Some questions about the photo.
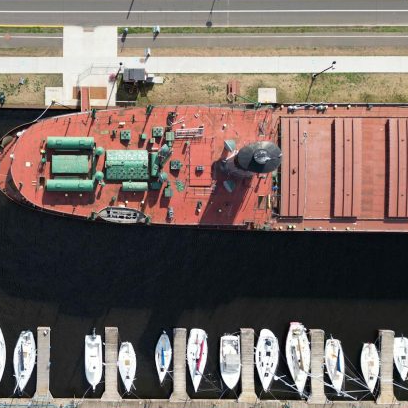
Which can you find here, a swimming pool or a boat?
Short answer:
boat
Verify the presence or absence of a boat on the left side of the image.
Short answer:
Yes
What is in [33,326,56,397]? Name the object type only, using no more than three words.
pier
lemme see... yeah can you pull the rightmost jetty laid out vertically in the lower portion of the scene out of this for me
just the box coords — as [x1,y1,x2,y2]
[374,328,399,397]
